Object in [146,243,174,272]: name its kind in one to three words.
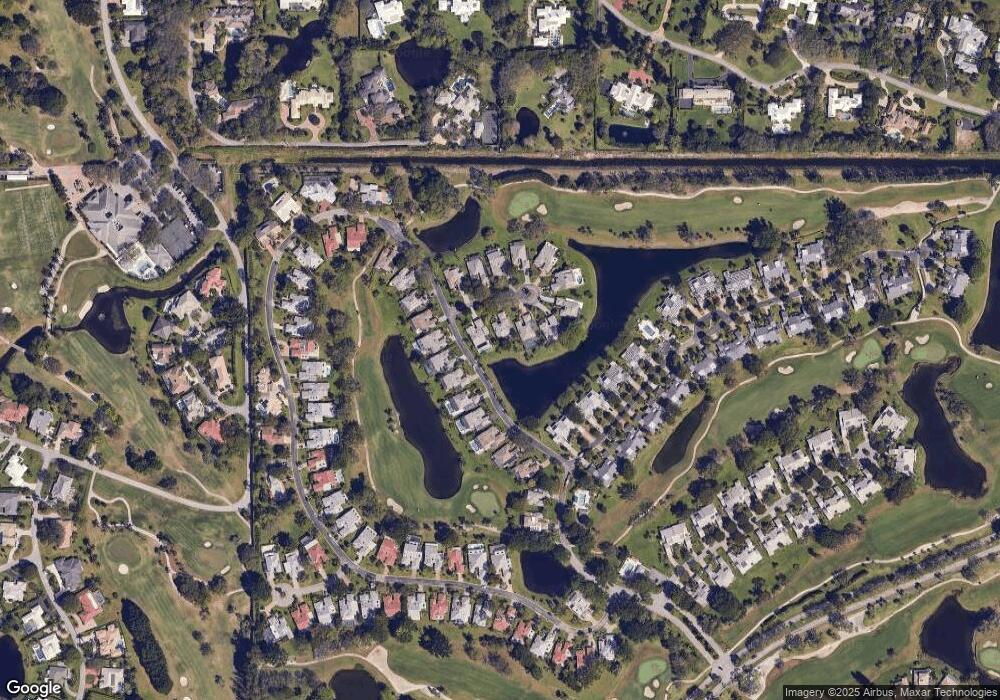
building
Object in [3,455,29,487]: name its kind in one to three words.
house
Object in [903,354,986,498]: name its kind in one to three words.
pond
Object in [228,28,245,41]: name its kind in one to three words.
swimming pool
